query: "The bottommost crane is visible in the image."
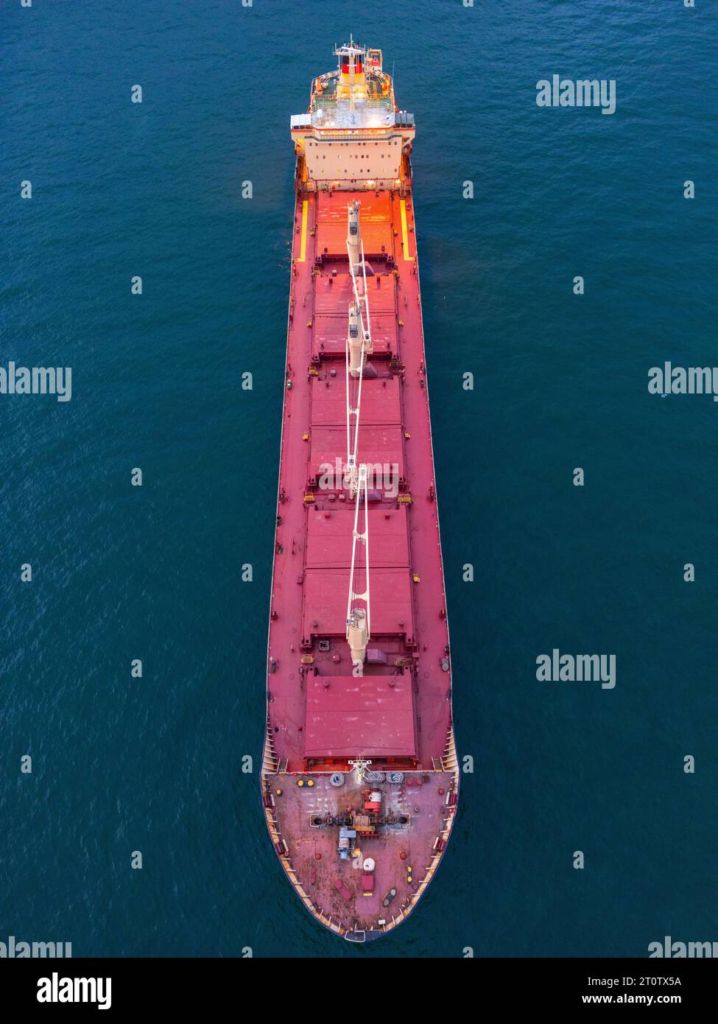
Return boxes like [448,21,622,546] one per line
[346,465,371,671]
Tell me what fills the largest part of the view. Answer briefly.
water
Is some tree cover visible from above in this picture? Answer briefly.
No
